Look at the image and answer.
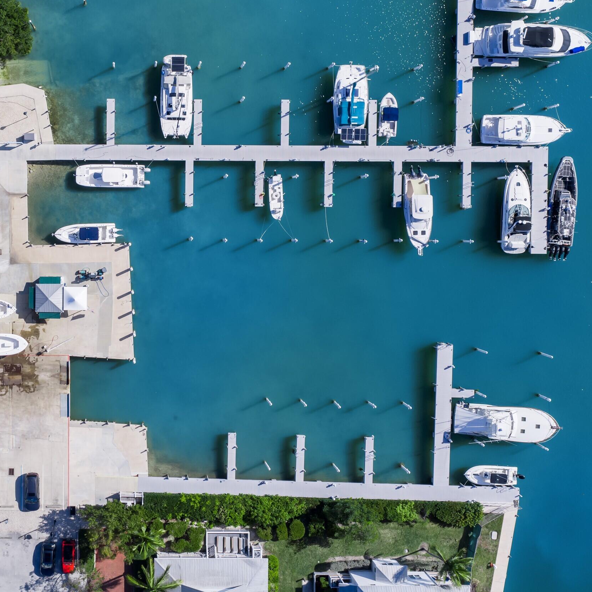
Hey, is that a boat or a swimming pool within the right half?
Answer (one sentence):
Visible within the right half is a boat.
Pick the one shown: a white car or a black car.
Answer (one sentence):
Of the two, only a black car appears.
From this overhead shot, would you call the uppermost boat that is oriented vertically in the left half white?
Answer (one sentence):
Yes, white is the color of the uppermost boat that is oriented vertically in the left half.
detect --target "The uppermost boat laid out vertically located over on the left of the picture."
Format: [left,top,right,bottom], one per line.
[159,57,194,140]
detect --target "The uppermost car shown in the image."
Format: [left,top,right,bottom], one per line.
[23,472,41,511]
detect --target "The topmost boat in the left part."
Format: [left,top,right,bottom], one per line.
[162,53,187,67]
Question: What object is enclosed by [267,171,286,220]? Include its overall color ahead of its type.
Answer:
white boat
